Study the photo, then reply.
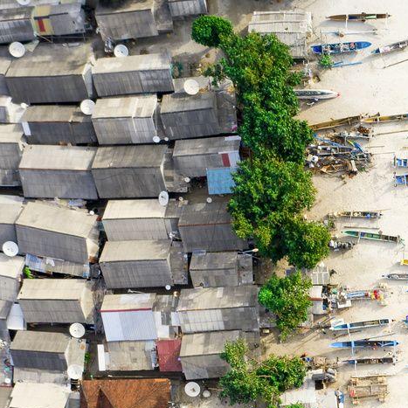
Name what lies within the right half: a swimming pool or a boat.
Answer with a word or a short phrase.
boat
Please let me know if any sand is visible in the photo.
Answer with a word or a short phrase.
Yes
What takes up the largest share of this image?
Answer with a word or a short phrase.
buildings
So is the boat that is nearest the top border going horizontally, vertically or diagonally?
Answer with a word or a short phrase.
horizontally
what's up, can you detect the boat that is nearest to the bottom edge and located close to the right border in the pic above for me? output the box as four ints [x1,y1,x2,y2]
[339,358,404,378]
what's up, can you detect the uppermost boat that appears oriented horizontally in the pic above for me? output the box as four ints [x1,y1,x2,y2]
[321,13,397,33]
